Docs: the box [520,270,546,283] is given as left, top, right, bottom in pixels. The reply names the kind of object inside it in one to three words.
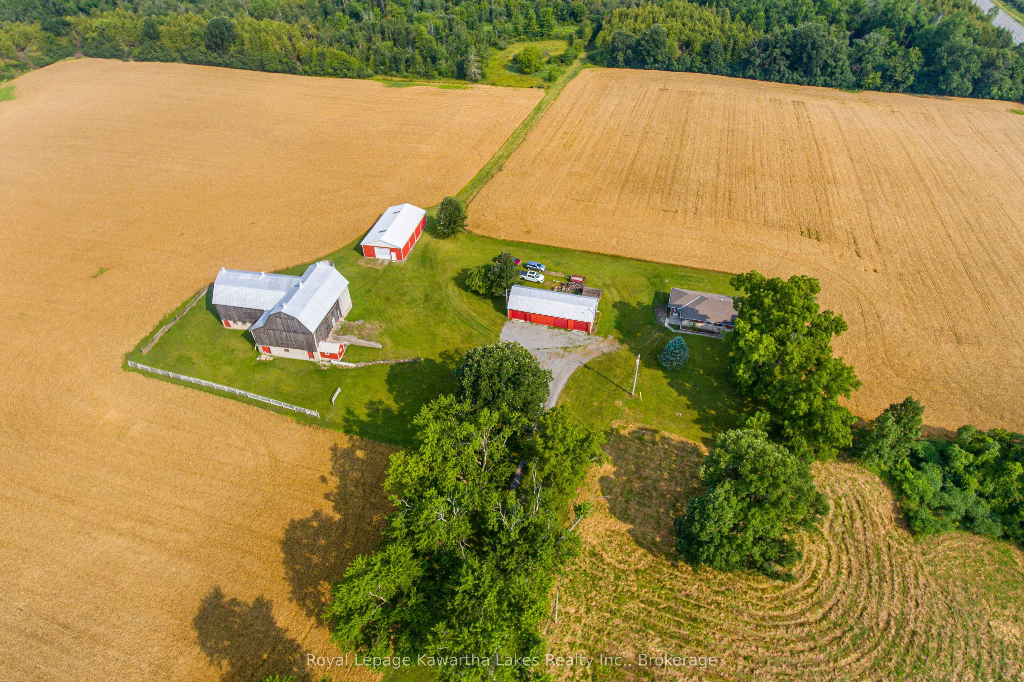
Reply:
vehicle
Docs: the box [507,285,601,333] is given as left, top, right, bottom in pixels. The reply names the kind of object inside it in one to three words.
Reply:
building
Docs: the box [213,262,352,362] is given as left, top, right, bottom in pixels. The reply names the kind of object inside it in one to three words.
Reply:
barn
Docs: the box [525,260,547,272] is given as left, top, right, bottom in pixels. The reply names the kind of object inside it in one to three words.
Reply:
vehicle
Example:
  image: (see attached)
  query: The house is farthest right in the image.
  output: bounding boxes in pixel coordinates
[668,287,745,336]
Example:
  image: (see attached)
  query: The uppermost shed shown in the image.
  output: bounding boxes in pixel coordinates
[361,203,428,261]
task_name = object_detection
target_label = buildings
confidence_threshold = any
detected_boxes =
[213,262,352,362]
[507,285,601,333]
[361,203,428,261]
[668,287,745,336]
